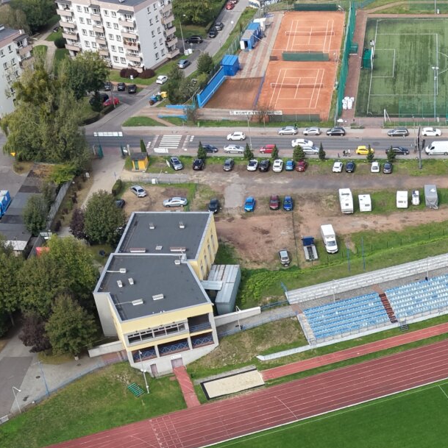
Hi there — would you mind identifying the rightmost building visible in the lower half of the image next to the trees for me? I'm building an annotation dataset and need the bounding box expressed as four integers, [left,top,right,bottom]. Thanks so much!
[94,212,261,360]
